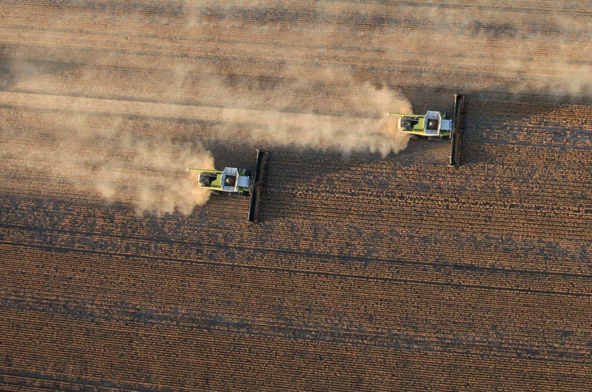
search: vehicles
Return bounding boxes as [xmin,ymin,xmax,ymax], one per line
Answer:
[184,149,272,224]
[386,93,469,166]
